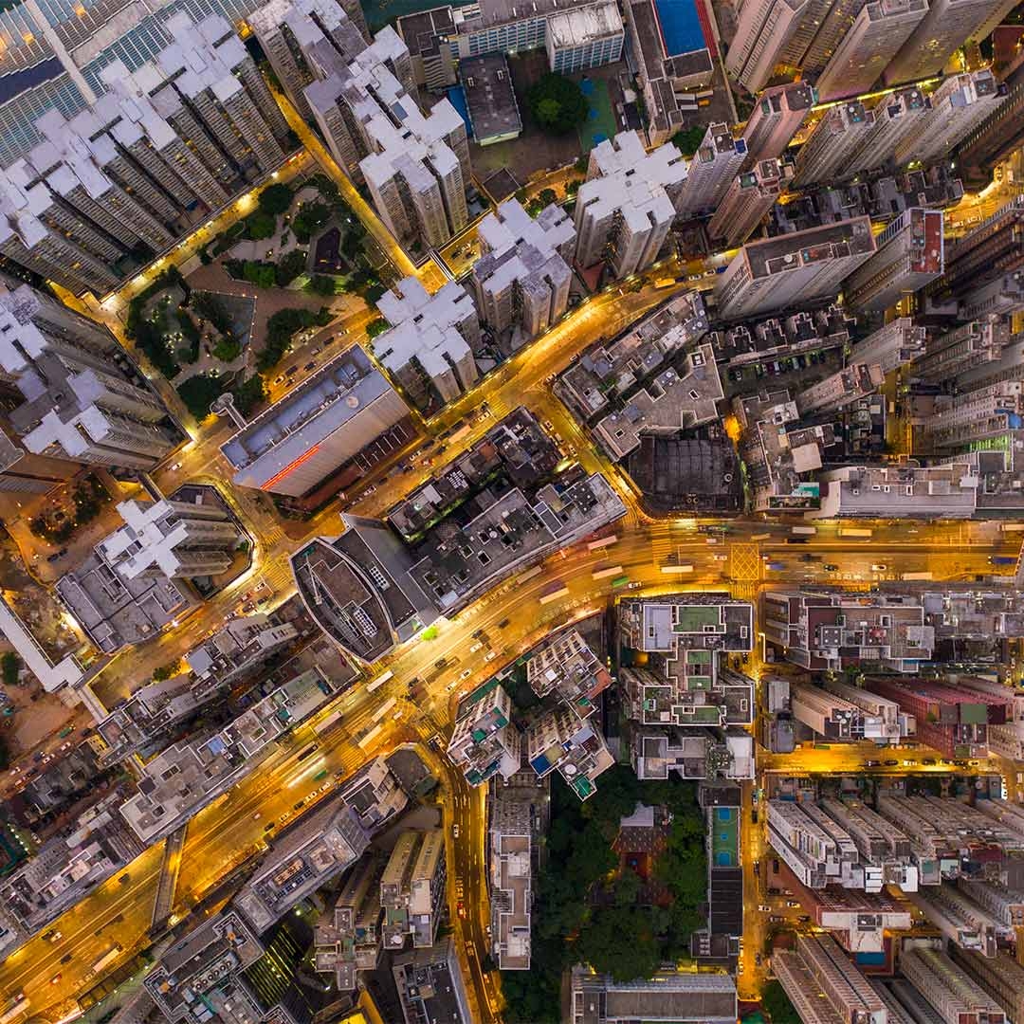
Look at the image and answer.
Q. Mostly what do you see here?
buildings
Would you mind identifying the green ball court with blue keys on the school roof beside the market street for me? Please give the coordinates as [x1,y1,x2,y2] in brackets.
[713,809,737,867]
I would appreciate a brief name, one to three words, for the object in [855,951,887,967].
swimming pool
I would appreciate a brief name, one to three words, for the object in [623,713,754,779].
building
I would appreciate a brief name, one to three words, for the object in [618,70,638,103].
house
